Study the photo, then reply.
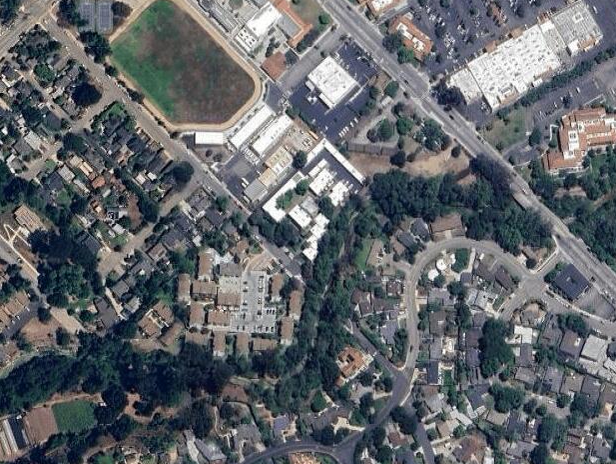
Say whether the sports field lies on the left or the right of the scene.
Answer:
left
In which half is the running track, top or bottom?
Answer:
top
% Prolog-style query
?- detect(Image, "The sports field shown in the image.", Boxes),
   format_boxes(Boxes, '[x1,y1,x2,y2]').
[104,0,262,131]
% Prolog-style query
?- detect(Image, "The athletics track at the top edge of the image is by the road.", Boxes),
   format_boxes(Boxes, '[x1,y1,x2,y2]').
[104,0,262,131]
